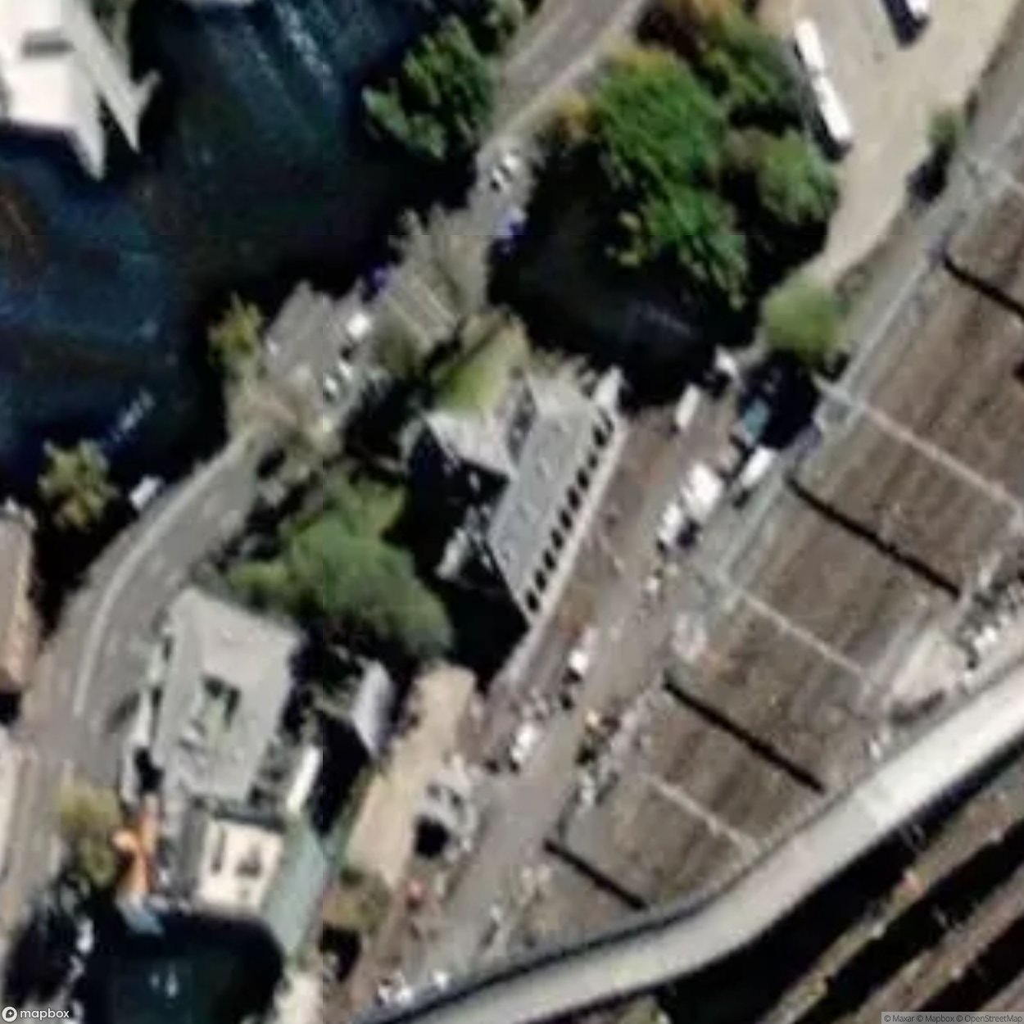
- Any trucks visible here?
Yes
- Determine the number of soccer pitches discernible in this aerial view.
zero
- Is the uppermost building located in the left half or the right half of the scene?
left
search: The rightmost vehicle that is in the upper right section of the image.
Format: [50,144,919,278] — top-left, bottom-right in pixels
[903,0,928,22]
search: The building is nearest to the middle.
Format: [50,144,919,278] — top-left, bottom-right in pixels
[424,373,622,622]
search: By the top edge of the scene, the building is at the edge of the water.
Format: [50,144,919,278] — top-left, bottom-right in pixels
[0,0,161,180]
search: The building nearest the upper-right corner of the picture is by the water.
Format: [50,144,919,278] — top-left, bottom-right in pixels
[600,366,626,417]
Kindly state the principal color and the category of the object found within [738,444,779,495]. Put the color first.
white truck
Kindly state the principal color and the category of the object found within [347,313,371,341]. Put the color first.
white vehicle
